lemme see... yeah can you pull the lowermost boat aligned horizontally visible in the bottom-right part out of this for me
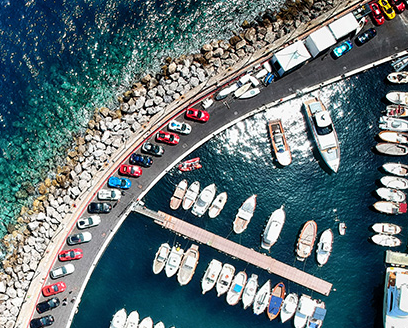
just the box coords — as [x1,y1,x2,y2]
[371,233,408,248]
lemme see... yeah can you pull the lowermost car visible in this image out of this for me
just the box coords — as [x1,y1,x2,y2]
[29,313,55,328]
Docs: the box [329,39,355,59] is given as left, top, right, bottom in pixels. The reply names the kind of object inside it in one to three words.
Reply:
car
